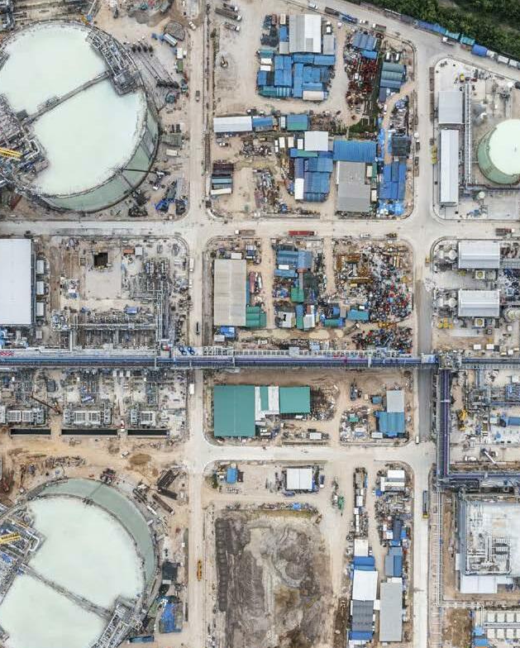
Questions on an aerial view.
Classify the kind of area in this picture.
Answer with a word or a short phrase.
industrial area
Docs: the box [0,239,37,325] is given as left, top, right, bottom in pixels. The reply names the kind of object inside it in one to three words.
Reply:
building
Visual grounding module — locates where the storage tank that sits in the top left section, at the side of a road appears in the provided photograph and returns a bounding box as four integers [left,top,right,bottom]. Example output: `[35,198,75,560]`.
[0,21,160,213]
